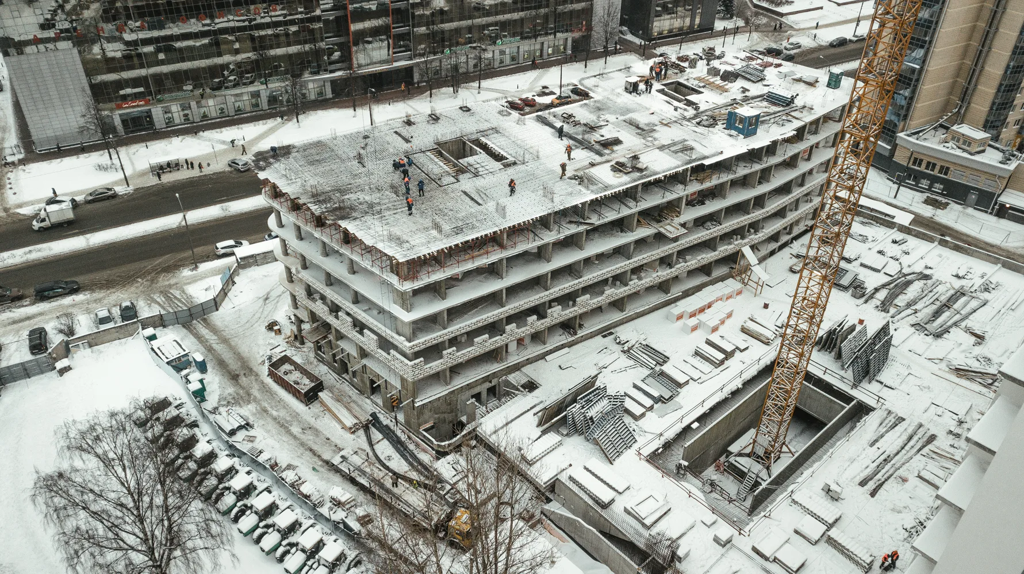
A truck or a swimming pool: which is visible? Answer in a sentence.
The image shows a truck.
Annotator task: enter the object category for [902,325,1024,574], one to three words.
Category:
building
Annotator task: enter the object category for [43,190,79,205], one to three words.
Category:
car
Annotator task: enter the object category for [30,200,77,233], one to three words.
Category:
truck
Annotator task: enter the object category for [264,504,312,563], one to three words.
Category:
work vehicle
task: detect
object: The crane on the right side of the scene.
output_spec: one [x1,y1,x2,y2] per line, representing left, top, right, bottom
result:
[726,0,923,493]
